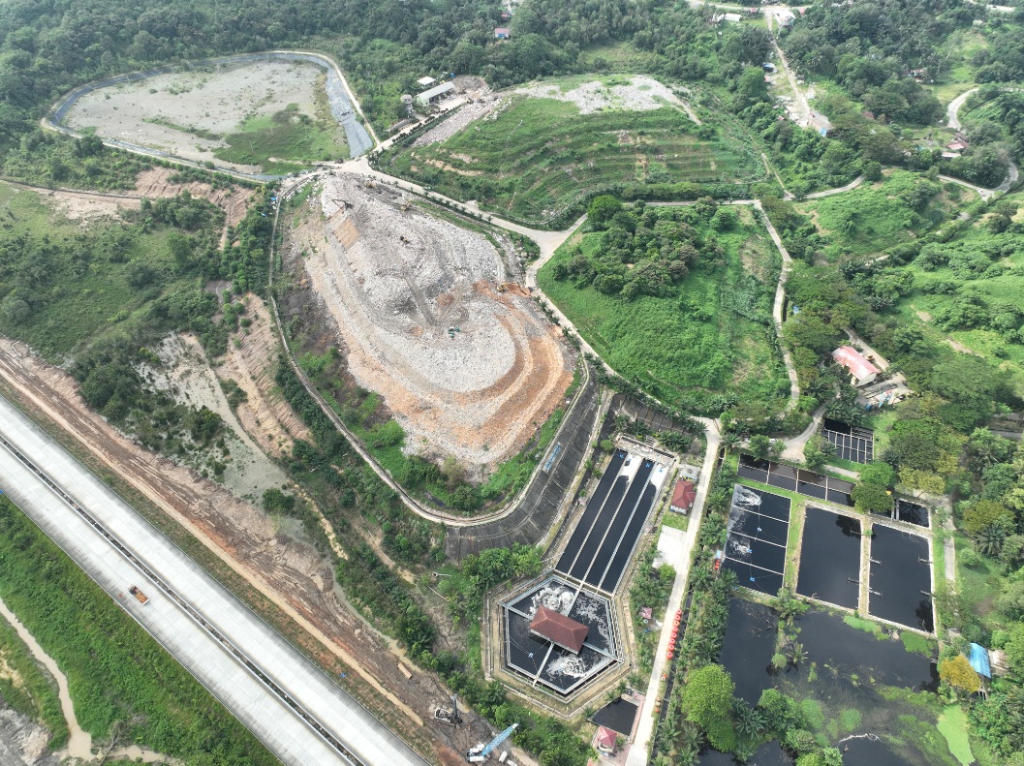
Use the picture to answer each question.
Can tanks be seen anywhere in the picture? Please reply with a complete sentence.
Yes, a tank appears in the view.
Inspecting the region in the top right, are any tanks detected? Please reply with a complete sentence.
No, I can find no tank in the top right.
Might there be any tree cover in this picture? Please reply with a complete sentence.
Yes, tree cover can be seen from above here.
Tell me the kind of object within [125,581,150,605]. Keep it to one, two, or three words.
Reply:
truck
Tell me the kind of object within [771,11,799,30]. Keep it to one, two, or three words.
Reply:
house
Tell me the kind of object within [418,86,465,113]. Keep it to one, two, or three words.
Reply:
building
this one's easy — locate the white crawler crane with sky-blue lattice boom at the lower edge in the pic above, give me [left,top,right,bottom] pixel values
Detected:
[461,722,520,766]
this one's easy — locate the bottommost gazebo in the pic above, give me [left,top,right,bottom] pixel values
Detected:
[595,725,619,753]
